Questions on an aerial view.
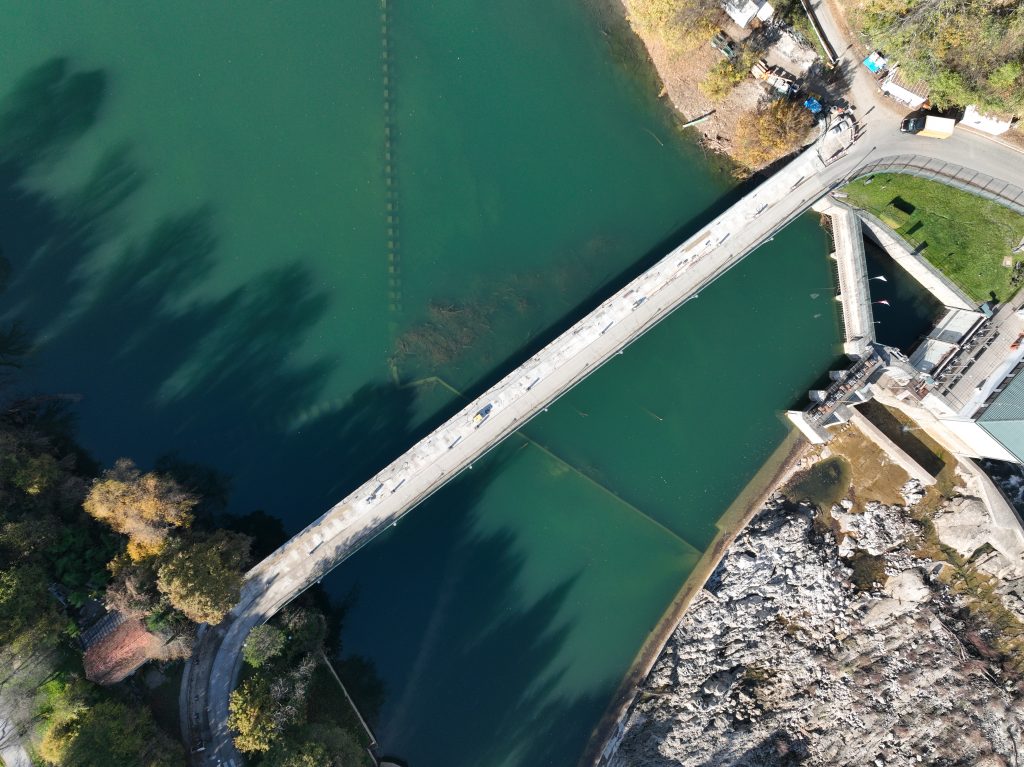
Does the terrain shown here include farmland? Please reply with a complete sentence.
No, there is no farmland in the image.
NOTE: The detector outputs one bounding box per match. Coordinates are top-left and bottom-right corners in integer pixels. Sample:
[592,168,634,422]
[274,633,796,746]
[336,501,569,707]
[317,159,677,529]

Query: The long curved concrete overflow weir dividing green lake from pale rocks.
[579,427,811,767]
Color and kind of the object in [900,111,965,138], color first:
white truck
